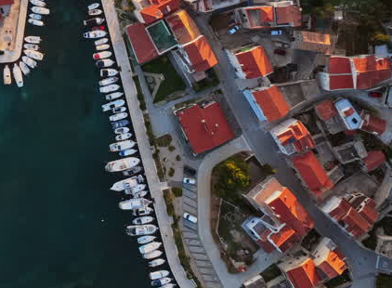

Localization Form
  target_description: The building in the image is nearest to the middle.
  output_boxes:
[176,101,234,152]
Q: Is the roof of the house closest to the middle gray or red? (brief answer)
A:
red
